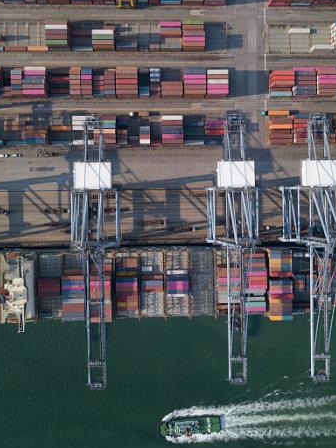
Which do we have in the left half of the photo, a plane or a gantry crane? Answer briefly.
gantry crane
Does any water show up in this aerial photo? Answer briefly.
Yes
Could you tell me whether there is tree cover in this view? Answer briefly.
No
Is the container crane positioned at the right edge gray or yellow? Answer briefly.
gray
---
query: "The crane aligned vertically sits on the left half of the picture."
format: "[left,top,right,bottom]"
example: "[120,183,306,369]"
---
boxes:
[70,116,123,391]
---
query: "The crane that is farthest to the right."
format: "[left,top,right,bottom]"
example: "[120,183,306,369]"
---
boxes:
[278,114,336,384]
